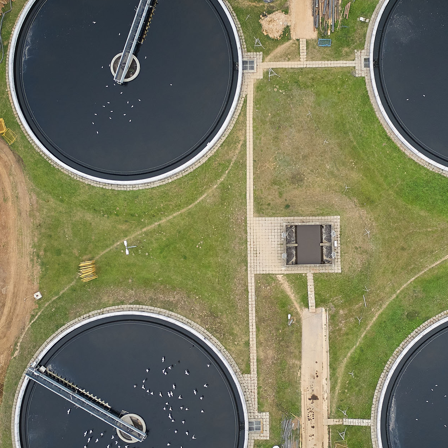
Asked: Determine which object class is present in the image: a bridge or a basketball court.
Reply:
bridge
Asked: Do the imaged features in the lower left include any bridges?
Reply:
Yes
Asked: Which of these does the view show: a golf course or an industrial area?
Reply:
industrial area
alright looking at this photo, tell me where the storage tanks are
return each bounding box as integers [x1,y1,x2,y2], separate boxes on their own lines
[15,311,249,448]
[369,0,448,172]
[377,316,448,448]
[8,0,243,184]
